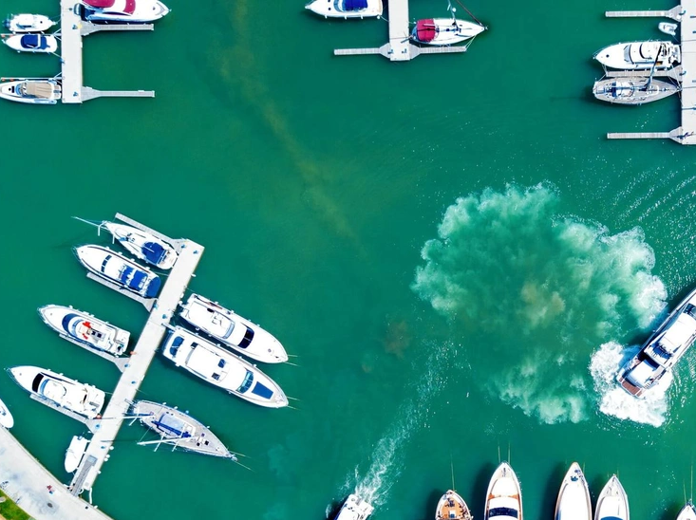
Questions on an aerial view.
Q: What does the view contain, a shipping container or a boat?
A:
boat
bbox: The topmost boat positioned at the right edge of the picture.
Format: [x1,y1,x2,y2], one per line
[659,21,678,36]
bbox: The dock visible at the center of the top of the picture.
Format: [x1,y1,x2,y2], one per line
[334,0,466,63]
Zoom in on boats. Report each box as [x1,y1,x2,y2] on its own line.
[436,485,472,520]
[484,441,523,520]
[0,397,12,426]
[335,495,372,520]
[659,21,678,36]
[67,433,88,472]
[38,307,137,358]
[615,291,696,401]
[101,395,250,469]
[181,296,296,363]
[550,443,590,520]
[75,247,162,300]
[0,78,62,106]
[3,31,60,54]
[157,321,297,407]
[80,213,178,270]
[308,0,387,22]
[408,0,484,47]
[80,0,167,30]
[11,367,112,416]
[595,40,679,75]
[5,13,60,35]
[593,463,626,520]
[592,49,684,107]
